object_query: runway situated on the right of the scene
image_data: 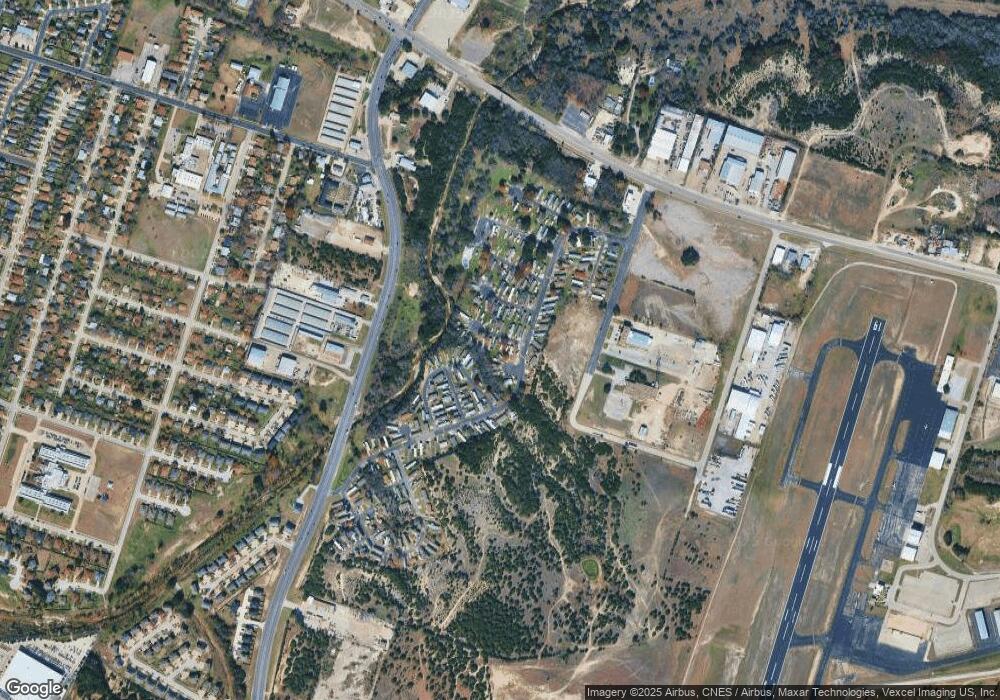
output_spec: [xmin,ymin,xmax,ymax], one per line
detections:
[762,316,887,700]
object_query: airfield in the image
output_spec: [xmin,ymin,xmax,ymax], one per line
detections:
[761,315,987,700]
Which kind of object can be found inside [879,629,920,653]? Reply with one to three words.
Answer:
hangar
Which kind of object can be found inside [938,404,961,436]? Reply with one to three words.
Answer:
hangar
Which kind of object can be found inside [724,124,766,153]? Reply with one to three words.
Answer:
building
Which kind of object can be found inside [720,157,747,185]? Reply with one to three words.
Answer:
building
